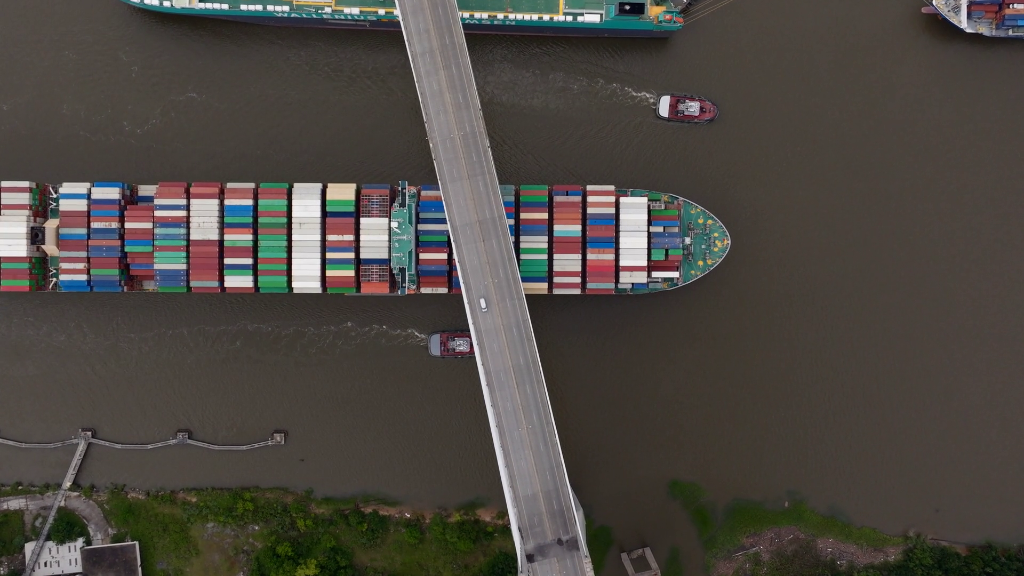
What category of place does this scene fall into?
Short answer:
port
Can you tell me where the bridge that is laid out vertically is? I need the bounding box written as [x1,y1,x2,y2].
[396,0,593,576]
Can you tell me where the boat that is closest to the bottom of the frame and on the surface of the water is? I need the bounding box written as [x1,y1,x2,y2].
[428,330,476,360]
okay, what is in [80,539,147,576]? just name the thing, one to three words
building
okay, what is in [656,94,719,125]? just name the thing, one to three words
boat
